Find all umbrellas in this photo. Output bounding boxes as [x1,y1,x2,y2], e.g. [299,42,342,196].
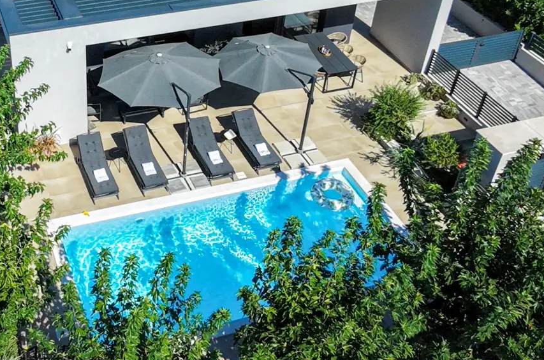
[99,42,219,188]
[209,31,330,165]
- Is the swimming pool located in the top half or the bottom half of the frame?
bottom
